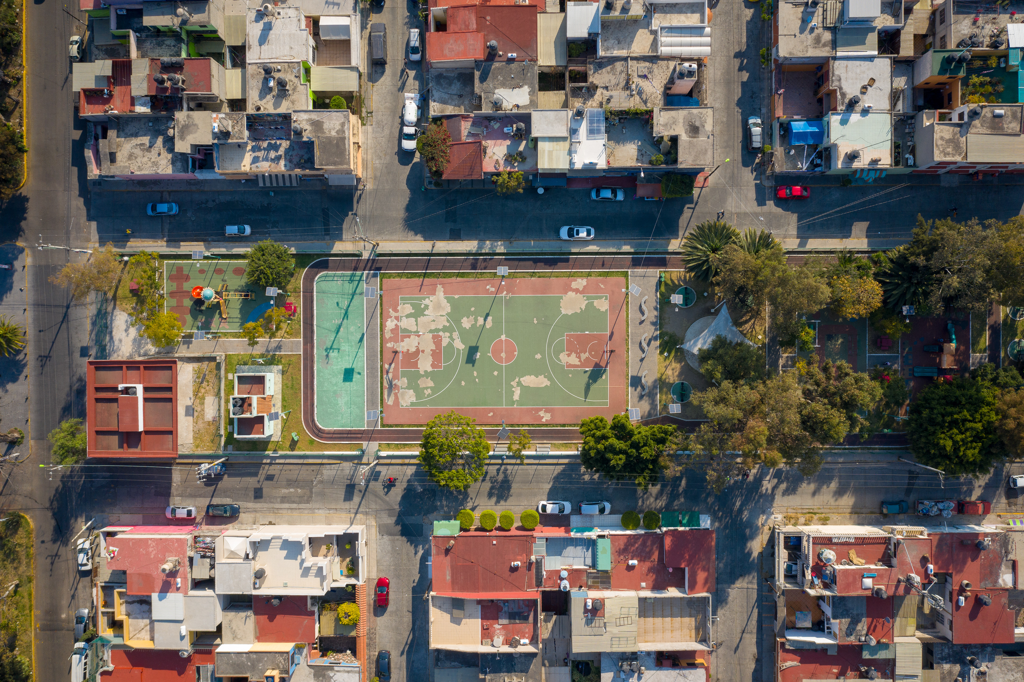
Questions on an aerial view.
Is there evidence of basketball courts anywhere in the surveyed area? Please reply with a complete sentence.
Yes, there is a basketball court in the image.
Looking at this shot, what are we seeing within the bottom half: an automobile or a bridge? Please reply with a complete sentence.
It is an automobile that can be seen within the bottom half.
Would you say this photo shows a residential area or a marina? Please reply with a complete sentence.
The picture captures a residential area.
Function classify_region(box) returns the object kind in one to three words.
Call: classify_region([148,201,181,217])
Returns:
car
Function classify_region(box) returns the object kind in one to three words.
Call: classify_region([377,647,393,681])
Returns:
car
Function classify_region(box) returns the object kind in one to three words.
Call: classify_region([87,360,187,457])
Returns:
building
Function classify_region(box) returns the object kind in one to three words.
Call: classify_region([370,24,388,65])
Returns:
vehicle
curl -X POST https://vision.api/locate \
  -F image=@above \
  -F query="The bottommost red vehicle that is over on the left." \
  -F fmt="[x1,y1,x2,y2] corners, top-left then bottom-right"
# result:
[375,575,391,607]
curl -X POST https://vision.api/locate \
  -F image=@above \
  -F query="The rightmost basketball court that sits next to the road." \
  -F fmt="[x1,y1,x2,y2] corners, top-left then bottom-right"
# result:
[382,279,626,424]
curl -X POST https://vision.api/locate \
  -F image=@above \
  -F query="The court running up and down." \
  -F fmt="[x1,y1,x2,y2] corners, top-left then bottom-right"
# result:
[315,272,364,428]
